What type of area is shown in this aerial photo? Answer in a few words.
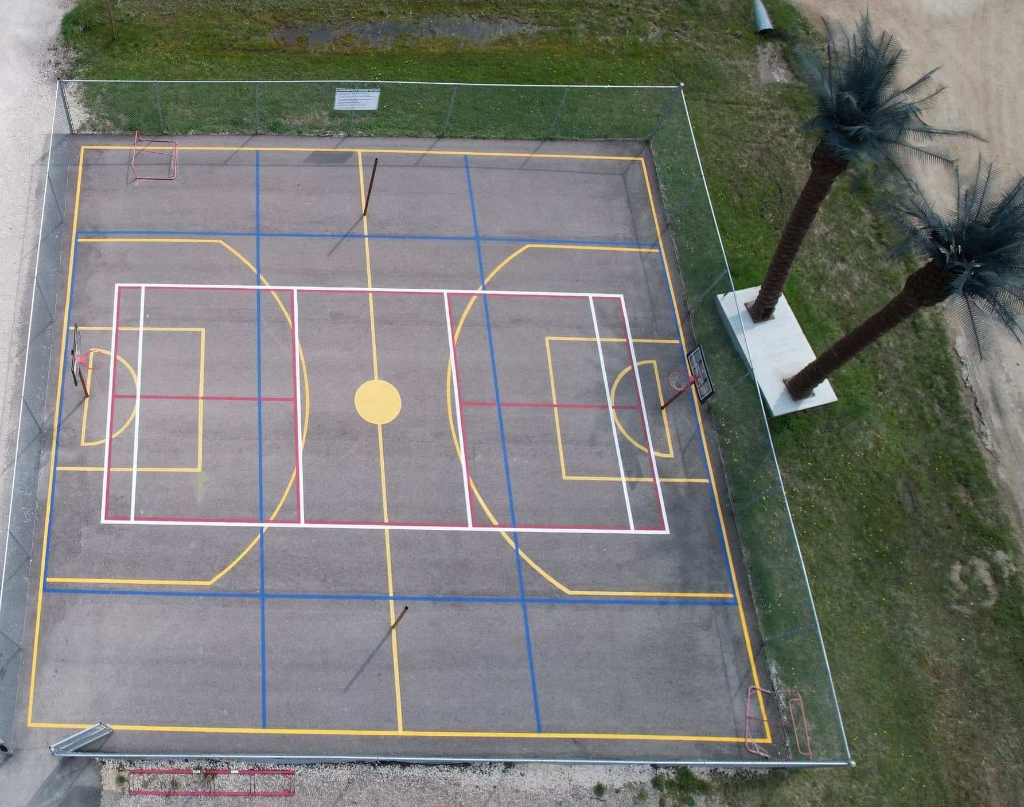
sports ground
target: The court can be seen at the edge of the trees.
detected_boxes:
[0,135,791,768]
